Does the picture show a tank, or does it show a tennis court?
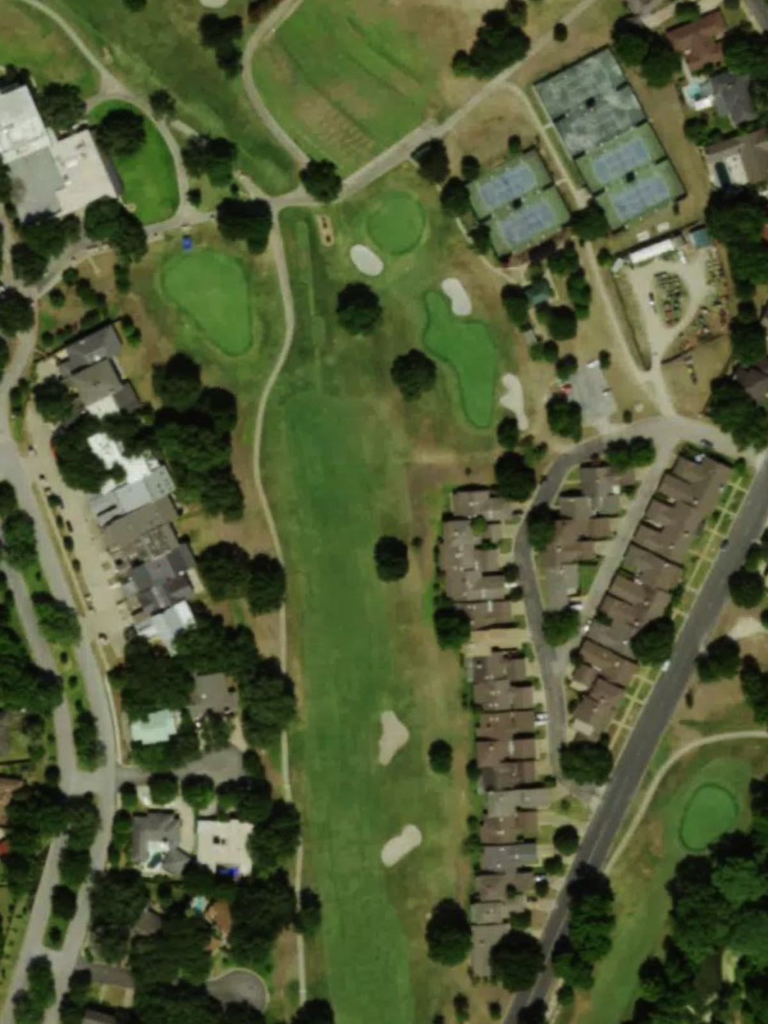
tennis court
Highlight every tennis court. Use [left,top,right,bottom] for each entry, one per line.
[471,151,554,219]
[552,83,647,158]
[591,156,686,232]
[533,46,628,121]
[486,184,569,252]
[572,120,666,195]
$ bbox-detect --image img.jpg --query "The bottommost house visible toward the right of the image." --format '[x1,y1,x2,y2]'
[472,926,511,978]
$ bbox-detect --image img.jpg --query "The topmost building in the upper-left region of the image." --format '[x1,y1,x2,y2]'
[0,84,123,224]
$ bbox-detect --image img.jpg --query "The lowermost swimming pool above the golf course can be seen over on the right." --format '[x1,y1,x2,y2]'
[715,161,730,190]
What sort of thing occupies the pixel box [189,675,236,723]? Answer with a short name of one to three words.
house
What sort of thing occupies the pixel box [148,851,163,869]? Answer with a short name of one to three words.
swimming pool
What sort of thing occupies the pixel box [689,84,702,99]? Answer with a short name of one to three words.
swimming pool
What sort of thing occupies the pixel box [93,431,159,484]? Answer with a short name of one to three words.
house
